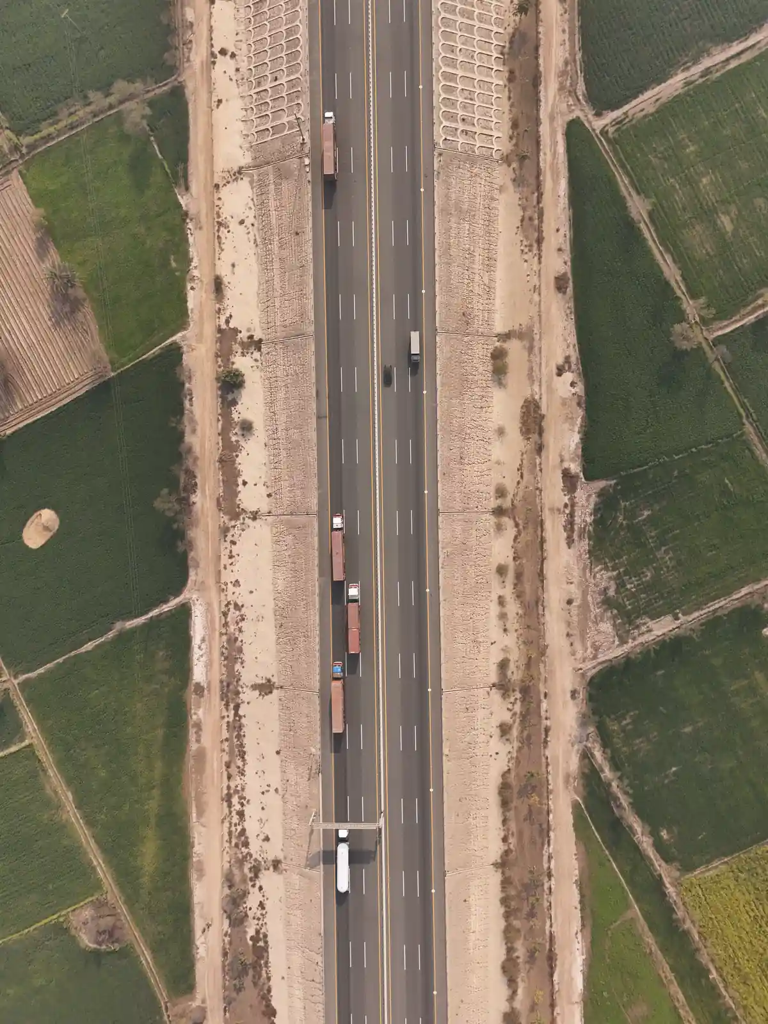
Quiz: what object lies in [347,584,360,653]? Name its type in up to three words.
vehicle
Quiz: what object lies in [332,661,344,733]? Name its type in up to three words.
vehicle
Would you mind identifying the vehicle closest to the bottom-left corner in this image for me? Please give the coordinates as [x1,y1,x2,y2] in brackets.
[337,828,350,891]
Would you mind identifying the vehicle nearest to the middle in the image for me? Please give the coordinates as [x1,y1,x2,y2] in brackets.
[331,513,345,580]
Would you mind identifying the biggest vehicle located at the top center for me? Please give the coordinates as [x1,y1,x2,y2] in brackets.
[323,113,335,181]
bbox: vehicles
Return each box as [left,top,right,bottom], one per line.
[384,365,392,385]
[337,828,350,891]
[323,113,335,181]
[410,332,420,364]
[347,584,360,653]
[332,661,344,733]
[331,513,345,580]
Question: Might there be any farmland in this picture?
Yes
